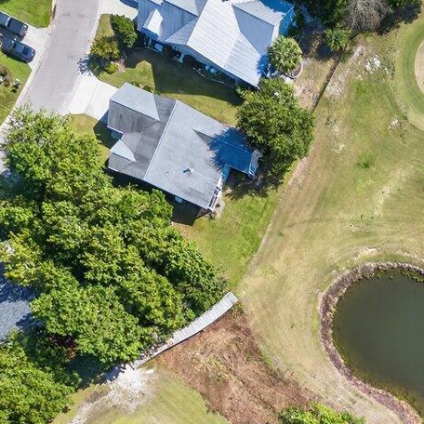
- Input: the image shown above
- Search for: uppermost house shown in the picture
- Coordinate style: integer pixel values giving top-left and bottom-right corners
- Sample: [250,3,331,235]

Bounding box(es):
[138,0,296,90]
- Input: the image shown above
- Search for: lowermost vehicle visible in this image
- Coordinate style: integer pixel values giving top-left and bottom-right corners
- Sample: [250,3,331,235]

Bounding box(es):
[0,36,40,65]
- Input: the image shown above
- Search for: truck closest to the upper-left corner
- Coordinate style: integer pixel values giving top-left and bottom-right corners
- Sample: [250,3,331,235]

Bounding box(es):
[0,10,33,43]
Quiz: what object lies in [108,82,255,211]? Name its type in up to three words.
house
